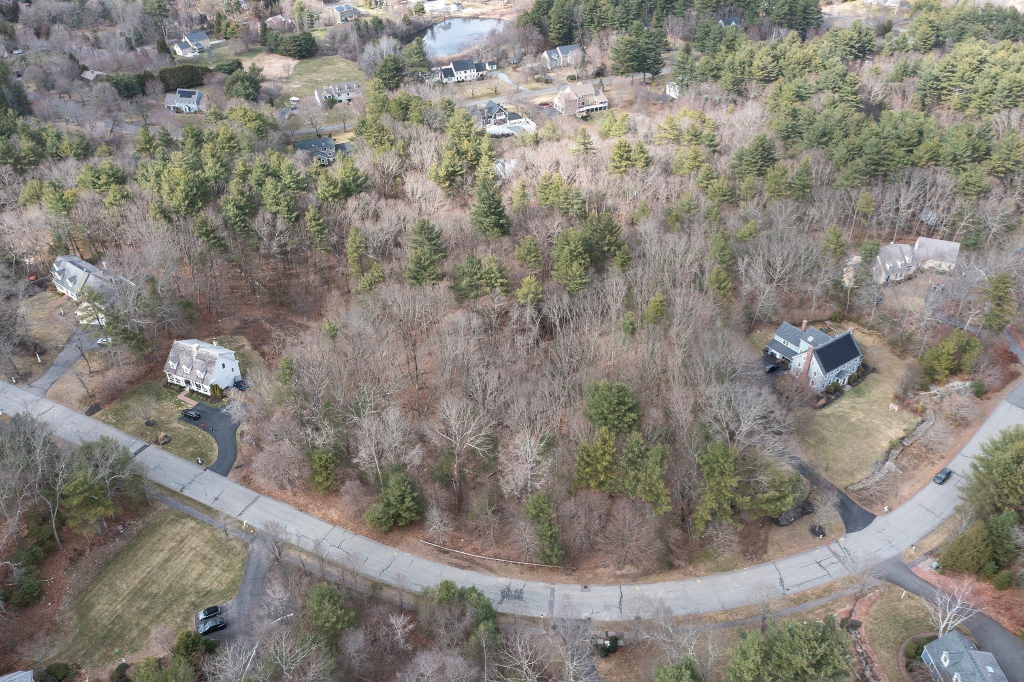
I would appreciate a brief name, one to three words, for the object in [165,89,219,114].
house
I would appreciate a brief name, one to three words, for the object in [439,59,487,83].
house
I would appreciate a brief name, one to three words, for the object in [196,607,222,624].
car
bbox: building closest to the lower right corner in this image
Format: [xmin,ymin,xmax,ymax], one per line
[920,626,1014,682]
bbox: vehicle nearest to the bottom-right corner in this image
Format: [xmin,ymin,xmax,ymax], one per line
[937,467,949,485]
